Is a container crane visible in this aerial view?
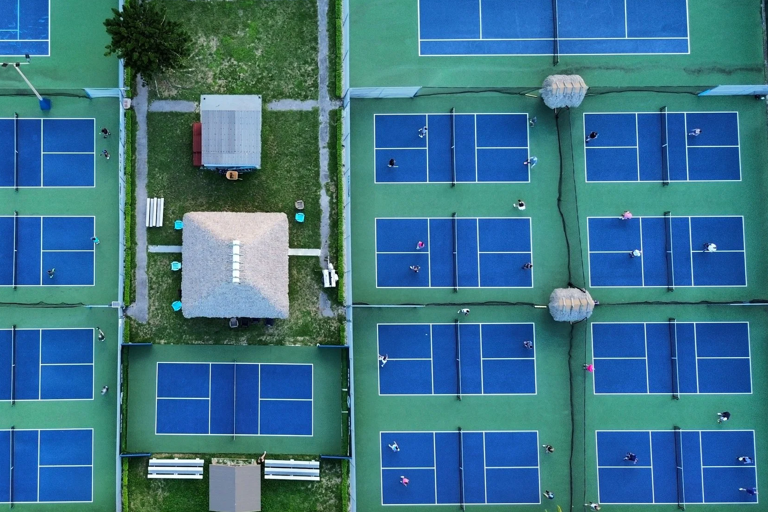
No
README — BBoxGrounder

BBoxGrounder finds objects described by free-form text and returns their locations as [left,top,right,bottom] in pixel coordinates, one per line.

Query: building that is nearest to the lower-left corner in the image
[209,460,261,512]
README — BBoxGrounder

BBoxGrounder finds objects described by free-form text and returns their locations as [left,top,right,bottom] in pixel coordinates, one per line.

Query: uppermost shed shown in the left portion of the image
[200,95,262,172]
